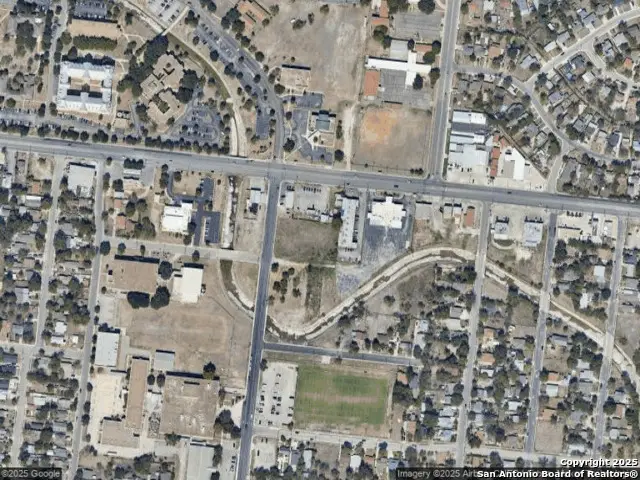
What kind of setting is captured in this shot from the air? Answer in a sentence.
This image shows a residential area.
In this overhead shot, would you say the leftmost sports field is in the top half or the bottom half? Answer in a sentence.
It is in the bottom half that the leftmost sports field appears.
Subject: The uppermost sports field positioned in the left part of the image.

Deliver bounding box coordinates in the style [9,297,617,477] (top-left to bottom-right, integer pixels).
[164,304,231,356]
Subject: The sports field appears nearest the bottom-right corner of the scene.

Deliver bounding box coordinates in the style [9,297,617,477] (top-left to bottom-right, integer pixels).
[296,364,390,427]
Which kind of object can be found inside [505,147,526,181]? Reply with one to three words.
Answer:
building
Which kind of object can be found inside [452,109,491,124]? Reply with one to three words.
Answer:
building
